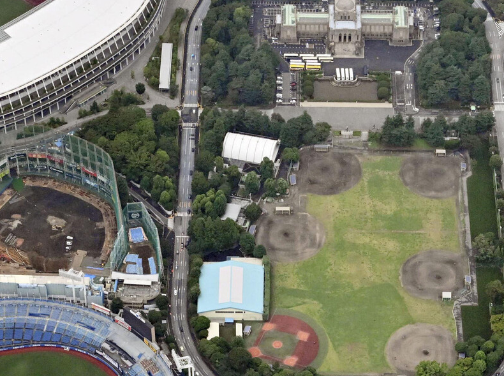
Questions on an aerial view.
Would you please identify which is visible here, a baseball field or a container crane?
baseball field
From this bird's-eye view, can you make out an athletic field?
Yes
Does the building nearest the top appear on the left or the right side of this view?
right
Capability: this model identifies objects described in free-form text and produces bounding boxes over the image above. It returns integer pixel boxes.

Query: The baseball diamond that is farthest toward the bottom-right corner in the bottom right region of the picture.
[388,321,456,370]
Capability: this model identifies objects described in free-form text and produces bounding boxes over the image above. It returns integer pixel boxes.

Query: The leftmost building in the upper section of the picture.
[161,43,174,93]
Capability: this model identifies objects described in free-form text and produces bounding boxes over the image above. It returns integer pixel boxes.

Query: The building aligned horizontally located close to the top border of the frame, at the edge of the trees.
[269,0,421,56]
